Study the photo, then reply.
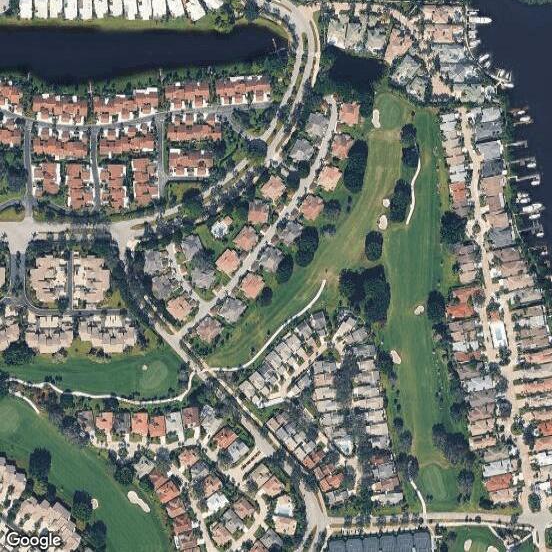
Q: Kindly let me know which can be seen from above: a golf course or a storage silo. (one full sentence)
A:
It is a golf course that can be seen here.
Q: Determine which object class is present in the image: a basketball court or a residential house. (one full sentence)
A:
The image shows a residential house.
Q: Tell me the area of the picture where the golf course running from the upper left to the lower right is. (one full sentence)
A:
Look in the bottom left portion of the view to spot the golf course running from the upper left to the lower right.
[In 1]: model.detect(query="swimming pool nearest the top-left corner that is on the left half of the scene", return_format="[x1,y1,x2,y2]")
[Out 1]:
[211,224,228,236]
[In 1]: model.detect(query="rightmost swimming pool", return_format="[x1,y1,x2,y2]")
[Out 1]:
[490,318,508,349]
